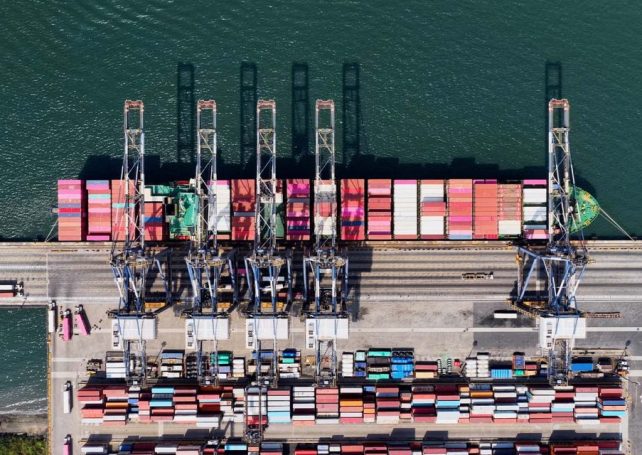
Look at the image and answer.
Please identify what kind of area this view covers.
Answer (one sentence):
The area seen from above is a port.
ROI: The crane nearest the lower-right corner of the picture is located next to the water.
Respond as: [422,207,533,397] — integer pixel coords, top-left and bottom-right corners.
[502,100,587,385]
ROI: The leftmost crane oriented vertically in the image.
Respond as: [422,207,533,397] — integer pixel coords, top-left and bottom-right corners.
[106,100,186,385]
